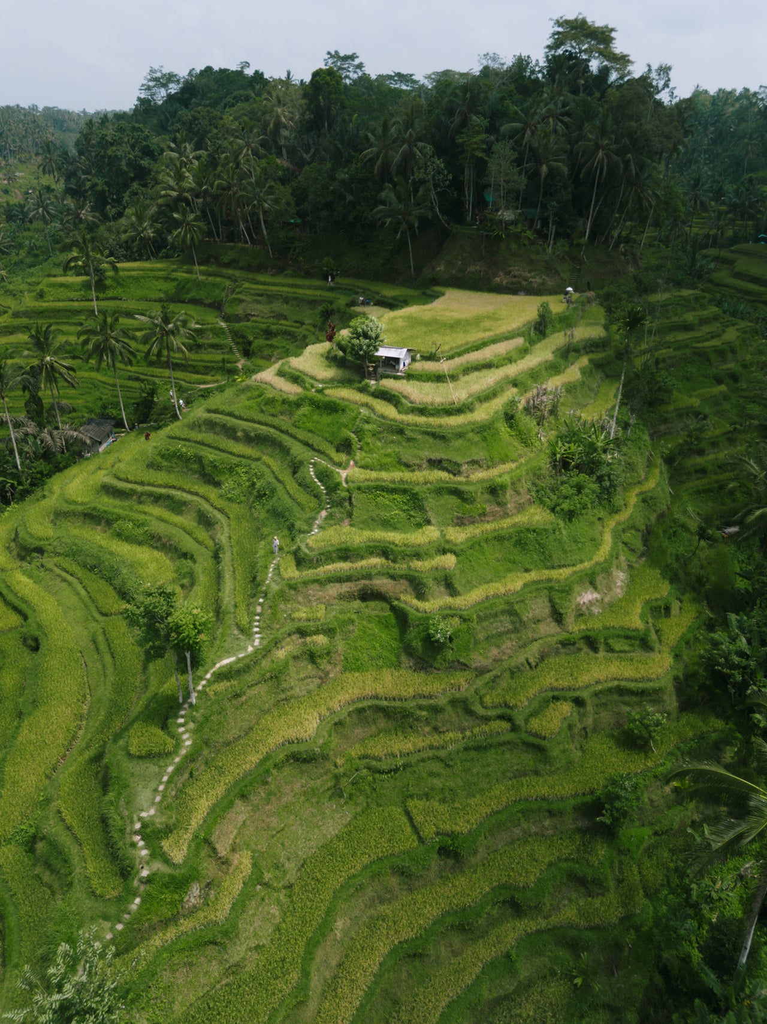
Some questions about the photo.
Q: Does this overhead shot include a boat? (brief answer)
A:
No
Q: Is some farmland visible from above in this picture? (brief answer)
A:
Yes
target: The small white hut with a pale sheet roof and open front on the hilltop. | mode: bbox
[371,350,415,385]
